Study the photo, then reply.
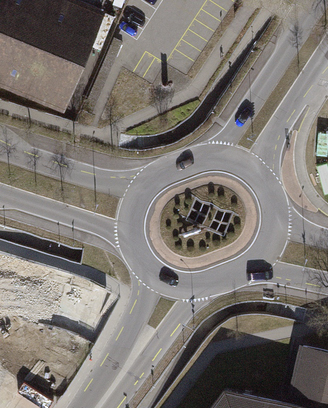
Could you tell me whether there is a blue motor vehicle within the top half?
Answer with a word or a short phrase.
Yes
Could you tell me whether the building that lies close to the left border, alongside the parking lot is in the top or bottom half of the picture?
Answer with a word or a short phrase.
top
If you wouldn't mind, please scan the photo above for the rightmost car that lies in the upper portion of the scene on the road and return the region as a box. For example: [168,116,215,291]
[234,106,252,128]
